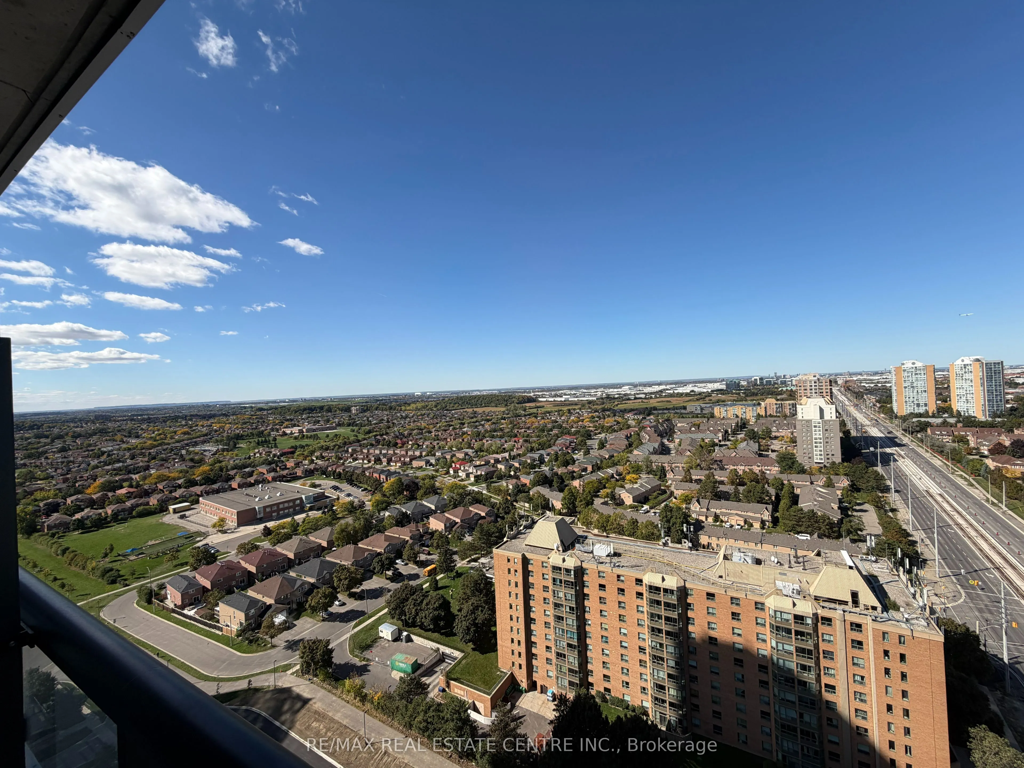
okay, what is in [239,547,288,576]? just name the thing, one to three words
house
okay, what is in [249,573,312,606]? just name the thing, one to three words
house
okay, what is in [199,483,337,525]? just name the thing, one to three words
building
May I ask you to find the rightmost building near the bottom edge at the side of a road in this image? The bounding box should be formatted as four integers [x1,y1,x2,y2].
[490,502,952,768]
